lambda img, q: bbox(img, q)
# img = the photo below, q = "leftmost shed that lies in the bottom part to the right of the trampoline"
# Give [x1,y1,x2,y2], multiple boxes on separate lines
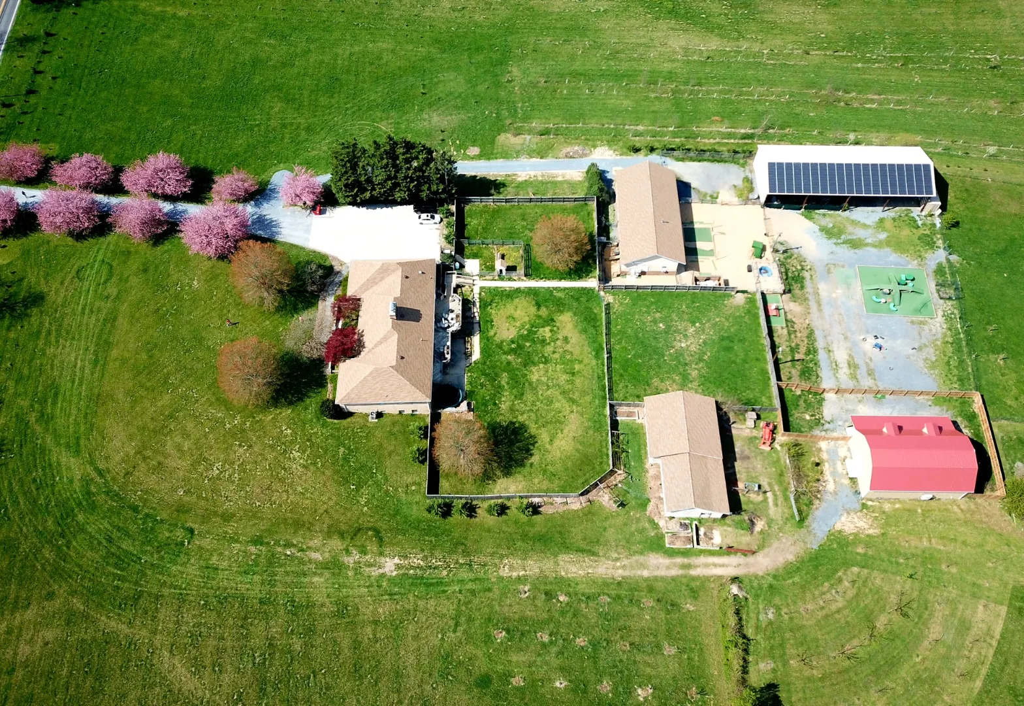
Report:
[643,390,730,519]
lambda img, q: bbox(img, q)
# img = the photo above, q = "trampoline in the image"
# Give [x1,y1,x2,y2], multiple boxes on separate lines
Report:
[432,381,459,407]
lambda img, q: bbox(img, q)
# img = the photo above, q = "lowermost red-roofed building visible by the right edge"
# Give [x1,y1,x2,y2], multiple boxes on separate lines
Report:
[850,412,976,500]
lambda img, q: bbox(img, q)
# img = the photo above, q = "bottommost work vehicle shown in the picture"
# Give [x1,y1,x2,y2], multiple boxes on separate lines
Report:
[763,420,778,449]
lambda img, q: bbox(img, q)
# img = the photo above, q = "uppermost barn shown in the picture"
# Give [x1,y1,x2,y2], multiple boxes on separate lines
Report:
[756,145,936,207]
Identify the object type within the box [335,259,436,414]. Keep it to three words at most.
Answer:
house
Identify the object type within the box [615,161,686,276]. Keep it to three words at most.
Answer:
barn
